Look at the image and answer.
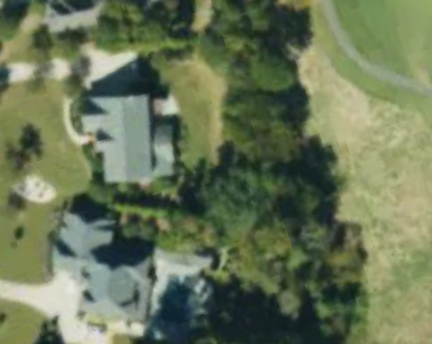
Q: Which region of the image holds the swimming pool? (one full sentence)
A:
The swimming pool appears toward the bottom of the photo.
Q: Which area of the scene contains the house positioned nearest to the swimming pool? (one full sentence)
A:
The house positioned nearest to the swimming pool sits in the bottom left section of the image.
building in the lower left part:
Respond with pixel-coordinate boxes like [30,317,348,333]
[53,209,157,323]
